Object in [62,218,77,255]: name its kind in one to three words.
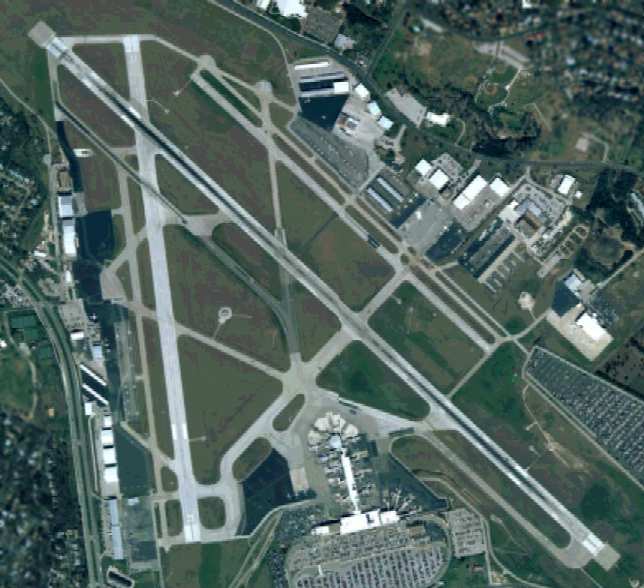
hangar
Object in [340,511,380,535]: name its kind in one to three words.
building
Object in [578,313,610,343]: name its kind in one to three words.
hangar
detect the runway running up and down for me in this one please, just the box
[124,34,199,544]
